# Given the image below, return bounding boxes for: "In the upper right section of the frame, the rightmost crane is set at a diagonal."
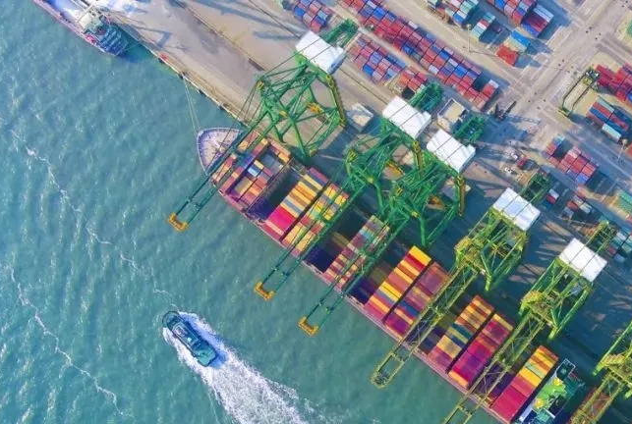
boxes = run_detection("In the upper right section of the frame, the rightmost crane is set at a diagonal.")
[554,68,603,132]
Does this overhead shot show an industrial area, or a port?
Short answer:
port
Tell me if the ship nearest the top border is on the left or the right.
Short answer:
left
